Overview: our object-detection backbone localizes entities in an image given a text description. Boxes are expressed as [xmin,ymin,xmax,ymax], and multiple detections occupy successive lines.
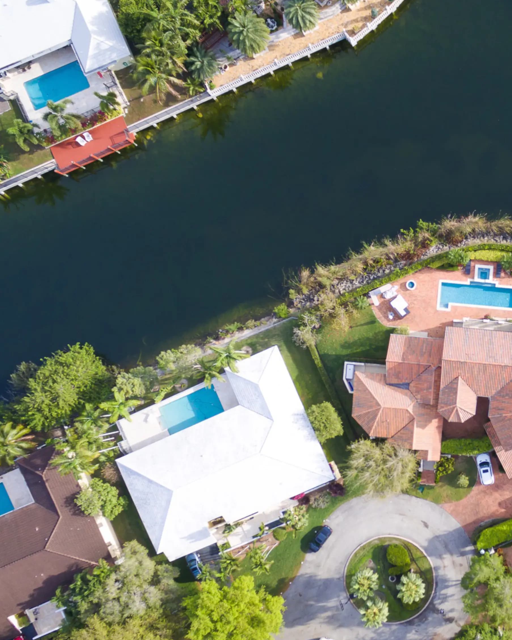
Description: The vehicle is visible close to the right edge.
[477,453,493,486]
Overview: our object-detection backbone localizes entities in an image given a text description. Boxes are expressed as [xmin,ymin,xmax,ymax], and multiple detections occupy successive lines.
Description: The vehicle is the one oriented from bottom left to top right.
[308,522,334,556]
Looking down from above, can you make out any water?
Yes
